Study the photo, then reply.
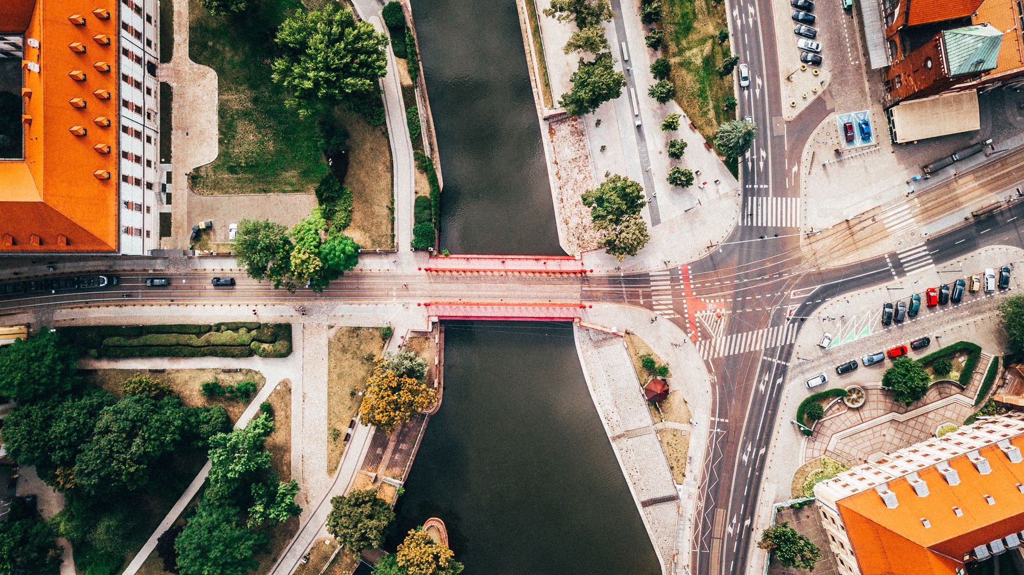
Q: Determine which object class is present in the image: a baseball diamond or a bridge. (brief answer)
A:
bridge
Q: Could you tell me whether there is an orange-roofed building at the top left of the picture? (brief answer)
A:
Yes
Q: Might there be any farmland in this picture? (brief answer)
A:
No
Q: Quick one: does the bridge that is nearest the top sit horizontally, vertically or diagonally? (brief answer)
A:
horizontally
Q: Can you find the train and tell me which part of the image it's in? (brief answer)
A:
left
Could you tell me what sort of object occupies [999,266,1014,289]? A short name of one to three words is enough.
car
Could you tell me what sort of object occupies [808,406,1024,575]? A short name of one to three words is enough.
building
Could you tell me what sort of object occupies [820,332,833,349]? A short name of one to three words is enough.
vehicle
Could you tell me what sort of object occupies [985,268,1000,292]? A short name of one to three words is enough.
vehicle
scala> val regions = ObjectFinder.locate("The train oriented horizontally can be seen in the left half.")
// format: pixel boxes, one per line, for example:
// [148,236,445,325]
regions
[0,276,122,298]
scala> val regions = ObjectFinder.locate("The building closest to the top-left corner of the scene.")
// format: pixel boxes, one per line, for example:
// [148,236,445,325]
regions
[0,0,164,254]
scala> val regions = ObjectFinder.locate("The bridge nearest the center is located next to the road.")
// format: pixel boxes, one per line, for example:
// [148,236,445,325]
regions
[416,254,595,322]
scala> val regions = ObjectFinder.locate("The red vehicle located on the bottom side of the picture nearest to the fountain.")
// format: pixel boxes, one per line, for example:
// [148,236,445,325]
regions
[888,345,910,358]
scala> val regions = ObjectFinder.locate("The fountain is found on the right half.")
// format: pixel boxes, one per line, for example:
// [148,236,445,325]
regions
[844,386,867,408]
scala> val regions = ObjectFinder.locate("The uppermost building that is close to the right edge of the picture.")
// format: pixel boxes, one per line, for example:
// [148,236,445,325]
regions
[874,0,1024,109]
